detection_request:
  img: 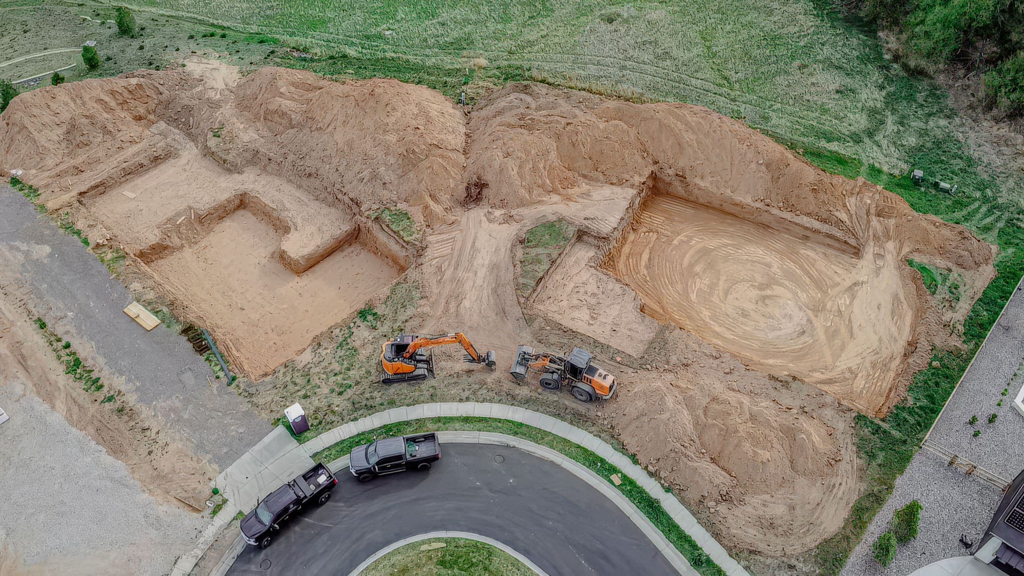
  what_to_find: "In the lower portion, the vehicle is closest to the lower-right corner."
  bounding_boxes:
[509,346,616,403]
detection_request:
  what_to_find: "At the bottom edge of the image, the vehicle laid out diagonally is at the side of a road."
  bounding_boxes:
[236,464,334,553]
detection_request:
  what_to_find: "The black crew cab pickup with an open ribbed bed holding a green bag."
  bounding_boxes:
[349,429,441,481]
